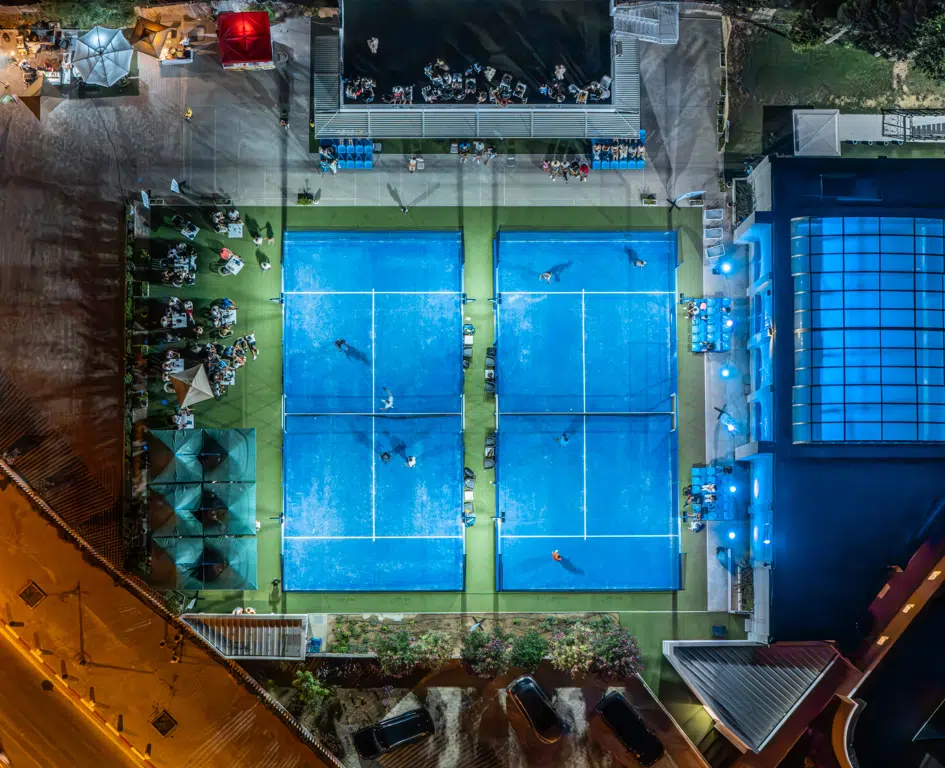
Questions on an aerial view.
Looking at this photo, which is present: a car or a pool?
car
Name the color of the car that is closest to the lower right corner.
black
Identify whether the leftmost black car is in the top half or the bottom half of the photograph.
bottom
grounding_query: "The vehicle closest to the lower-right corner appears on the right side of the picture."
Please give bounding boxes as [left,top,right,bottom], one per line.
[592,689,667,768]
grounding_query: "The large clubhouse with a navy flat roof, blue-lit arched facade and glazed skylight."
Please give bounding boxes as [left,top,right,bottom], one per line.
[735,154,945,643]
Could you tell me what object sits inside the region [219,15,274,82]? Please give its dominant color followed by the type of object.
red tent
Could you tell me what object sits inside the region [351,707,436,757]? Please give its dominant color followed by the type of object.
black car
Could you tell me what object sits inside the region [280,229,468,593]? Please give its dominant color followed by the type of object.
blue sports court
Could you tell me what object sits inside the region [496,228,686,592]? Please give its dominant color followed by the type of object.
blue sports court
